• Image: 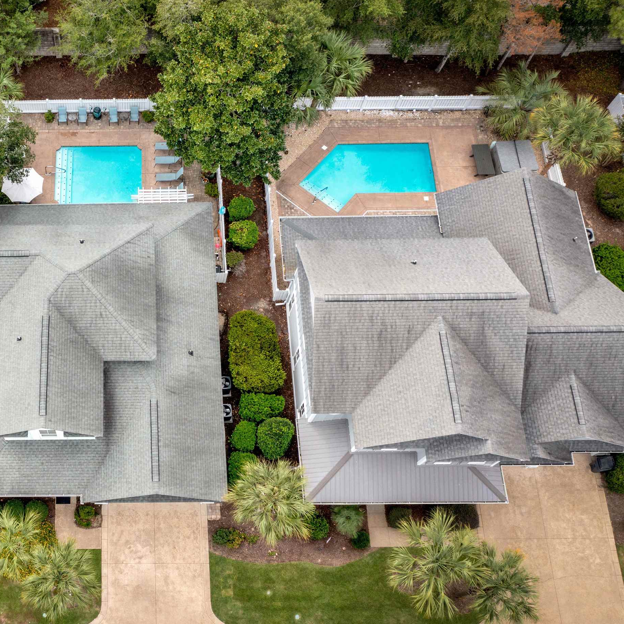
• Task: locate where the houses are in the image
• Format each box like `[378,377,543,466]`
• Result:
[278,172,624,507]
[0,202,228,507]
